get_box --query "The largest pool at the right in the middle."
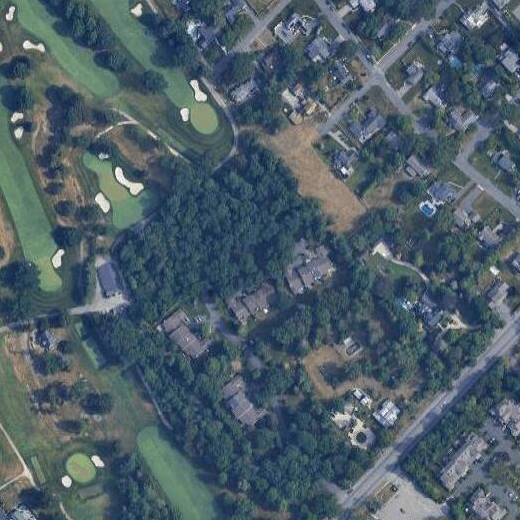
[421,200,436,217]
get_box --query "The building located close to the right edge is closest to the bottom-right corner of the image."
[474,490,510,520]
